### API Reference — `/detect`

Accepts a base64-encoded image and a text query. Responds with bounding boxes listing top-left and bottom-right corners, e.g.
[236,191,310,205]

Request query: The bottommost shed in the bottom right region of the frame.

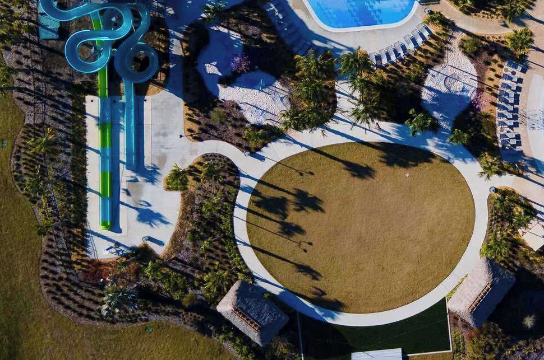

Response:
[448,260,515,328]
